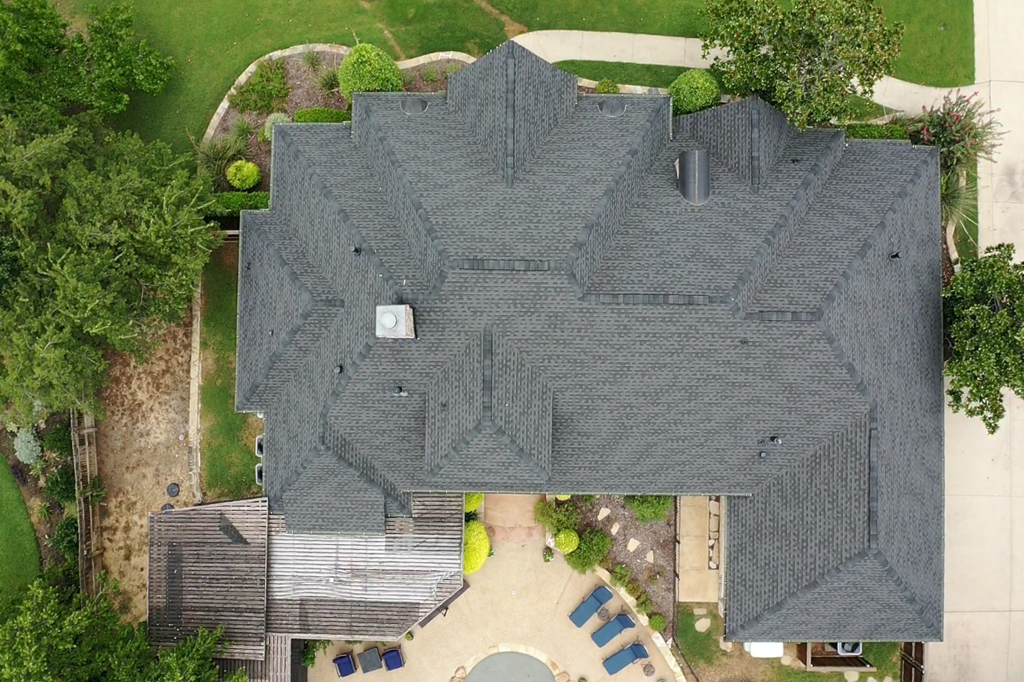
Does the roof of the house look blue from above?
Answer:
No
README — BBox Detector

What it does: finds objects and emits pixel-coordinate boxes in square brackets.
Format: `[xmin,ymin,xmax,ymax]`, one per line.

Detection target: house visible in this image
[233,34,947,645]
